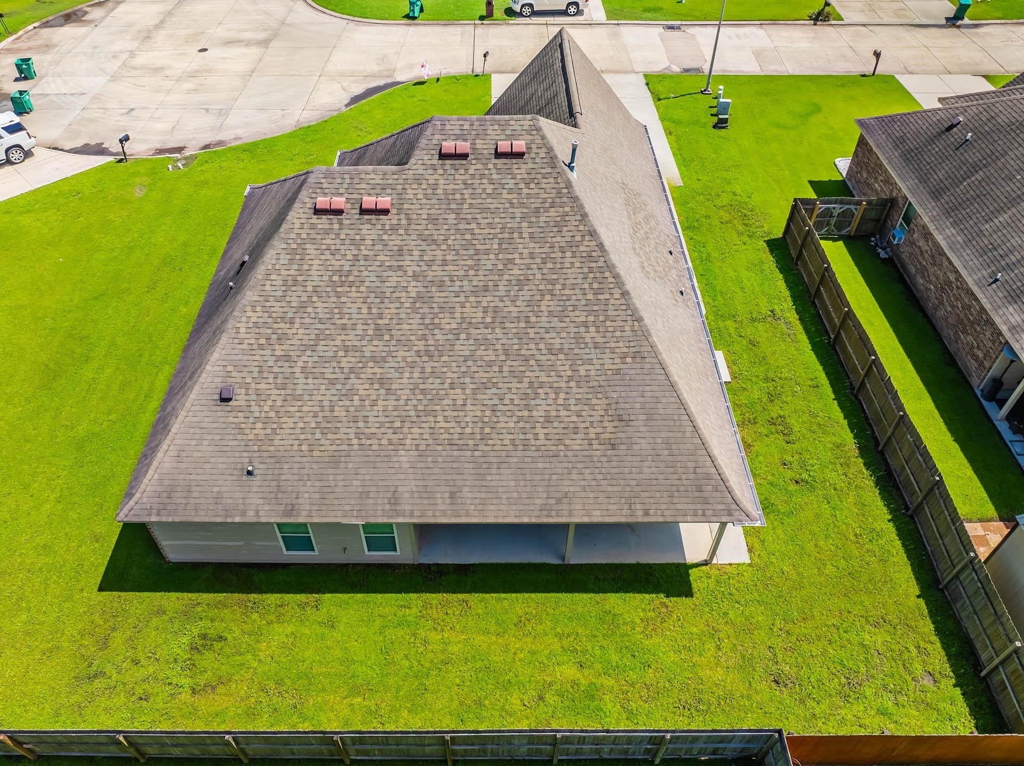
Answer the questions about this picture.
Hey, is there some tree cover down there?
No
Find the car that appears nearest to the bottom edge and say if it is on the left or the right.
left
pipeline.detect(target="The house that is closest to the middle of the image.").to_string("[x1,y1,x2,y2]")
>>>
[116,26,766,563]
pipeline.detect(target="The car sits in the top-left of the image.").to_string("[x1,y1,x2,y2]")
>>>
[0,109,36,164]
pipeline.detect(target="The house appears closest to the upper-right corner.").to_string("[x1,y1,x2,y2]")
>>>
[845,66,1024,420]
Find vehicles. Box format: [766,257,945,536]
[508,0,593,15]
[0,109,36,164]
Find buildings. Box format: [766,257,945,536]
[845,66,1024,420]
[116,26,766,563]
[987,516,1024,635]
